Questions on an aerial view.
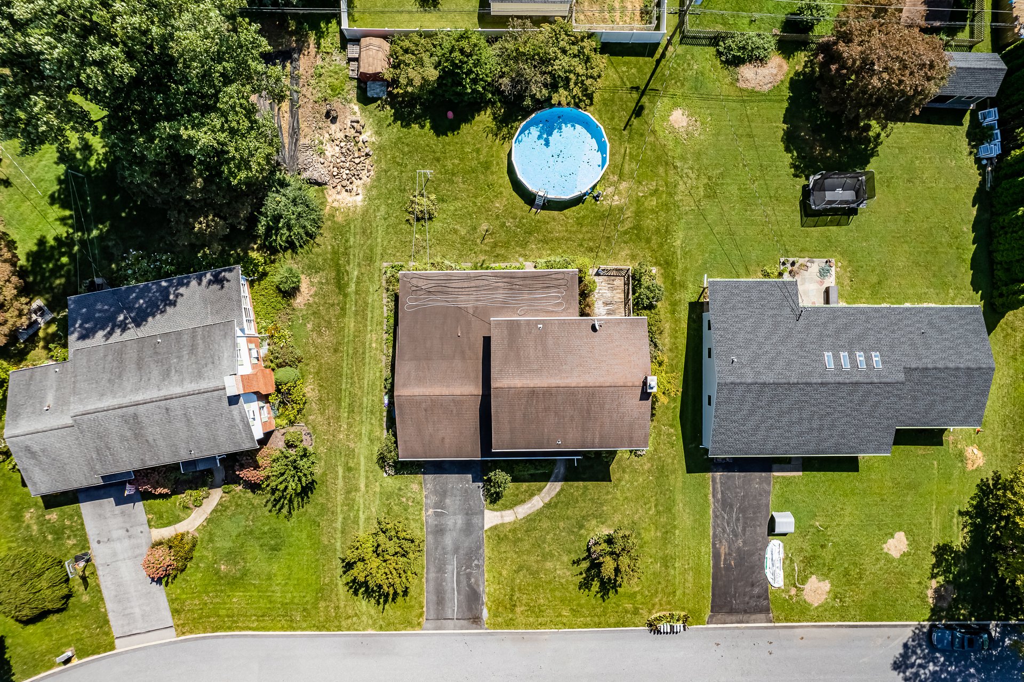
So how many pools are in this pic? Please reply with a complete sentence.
My tally gives 1 pool in this photo.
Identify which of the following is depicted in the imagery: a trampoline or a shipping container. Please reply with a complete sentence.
There is a trampoline in the scene.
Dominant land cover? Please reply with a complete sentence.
The bulk of the photo consists of grass.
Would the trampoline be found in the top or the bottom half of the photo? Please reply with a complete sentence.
Seen from above, the trampoline lies in the top half of the view.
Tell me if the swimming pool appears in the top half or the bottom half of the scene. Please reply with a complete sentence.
The swimming pool is in the top half of the image.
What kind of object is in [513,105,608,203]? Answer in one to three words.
swimming pool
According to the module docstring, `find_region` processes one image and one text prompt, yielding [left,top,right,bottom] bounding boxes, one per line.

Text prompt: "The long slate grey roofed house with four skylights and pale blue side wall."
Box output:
[696,277,995,457]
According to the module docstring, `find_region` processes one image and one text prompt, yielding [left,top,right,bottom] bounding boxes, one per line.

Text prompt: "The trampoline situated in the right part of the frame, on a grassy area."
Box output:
[805,171,877,211]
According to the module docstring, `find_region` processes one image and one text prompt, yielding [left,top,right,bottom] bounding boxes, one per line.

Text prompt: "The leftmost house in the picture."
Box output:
[4,264,285,498]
